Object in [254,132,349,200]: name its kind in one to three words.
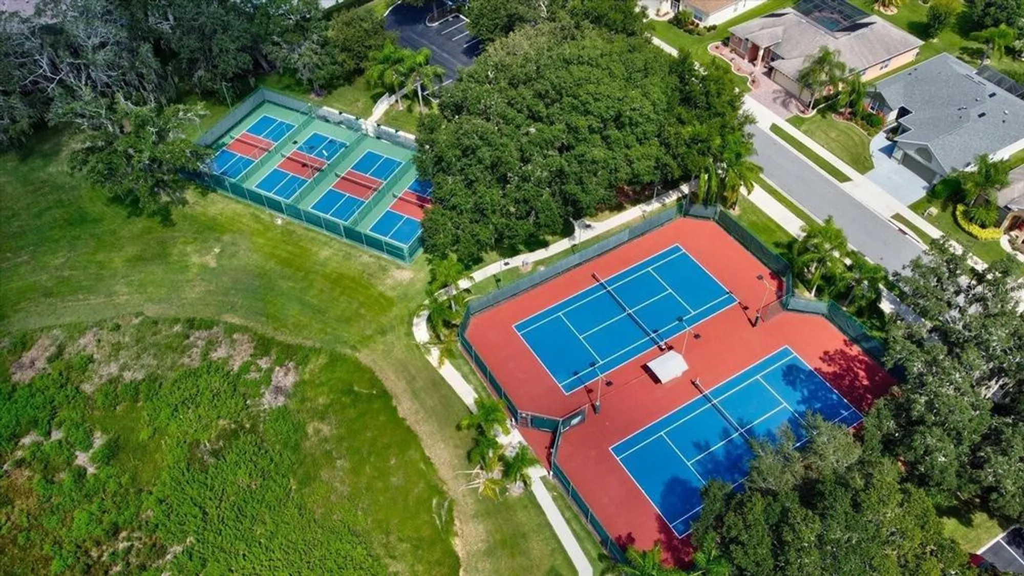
sports court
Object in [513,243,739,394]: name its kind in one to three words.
tennis court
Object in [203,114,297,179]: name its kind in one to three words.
sports court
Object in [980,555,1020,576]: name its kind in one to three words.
car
